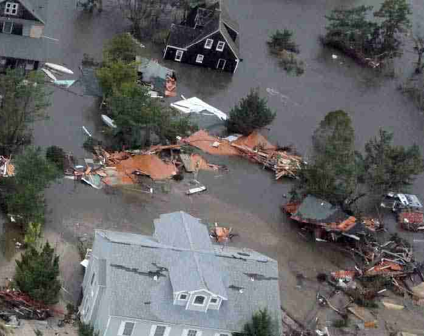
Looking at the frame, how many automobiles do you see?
zero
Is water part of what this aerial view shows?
Yes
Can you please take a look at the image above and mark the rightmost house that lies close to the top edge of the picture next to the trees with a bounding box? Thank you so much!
[163,2,240,72]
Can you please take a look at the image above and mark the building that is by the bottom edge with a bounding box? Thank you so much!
[82,208,287,336]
